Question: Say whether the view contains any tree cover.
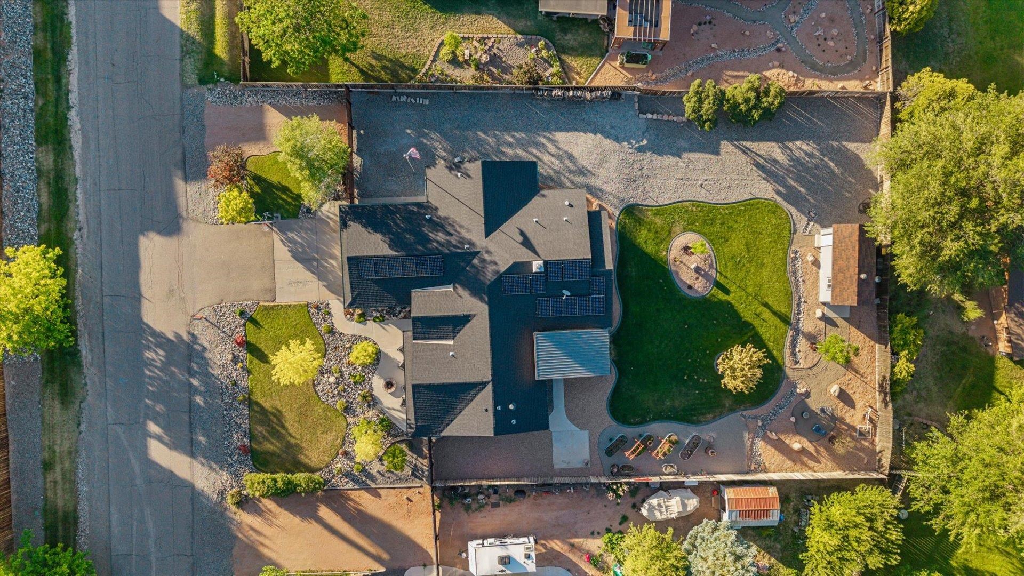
Yes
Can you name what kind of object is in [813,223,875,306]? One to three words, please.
shed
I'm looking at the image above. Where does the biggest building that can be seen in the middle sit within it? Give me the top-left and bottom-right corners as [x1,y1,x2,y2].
[340,157,615,439]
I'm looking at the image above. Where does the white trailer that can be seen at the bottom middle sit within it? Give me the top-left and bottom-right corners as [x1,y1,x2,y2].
[460,534,537,574]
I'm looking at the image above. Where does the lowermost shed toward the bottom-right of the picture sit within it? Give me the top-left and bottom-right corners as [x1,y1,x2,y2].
[718,481,782,528]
